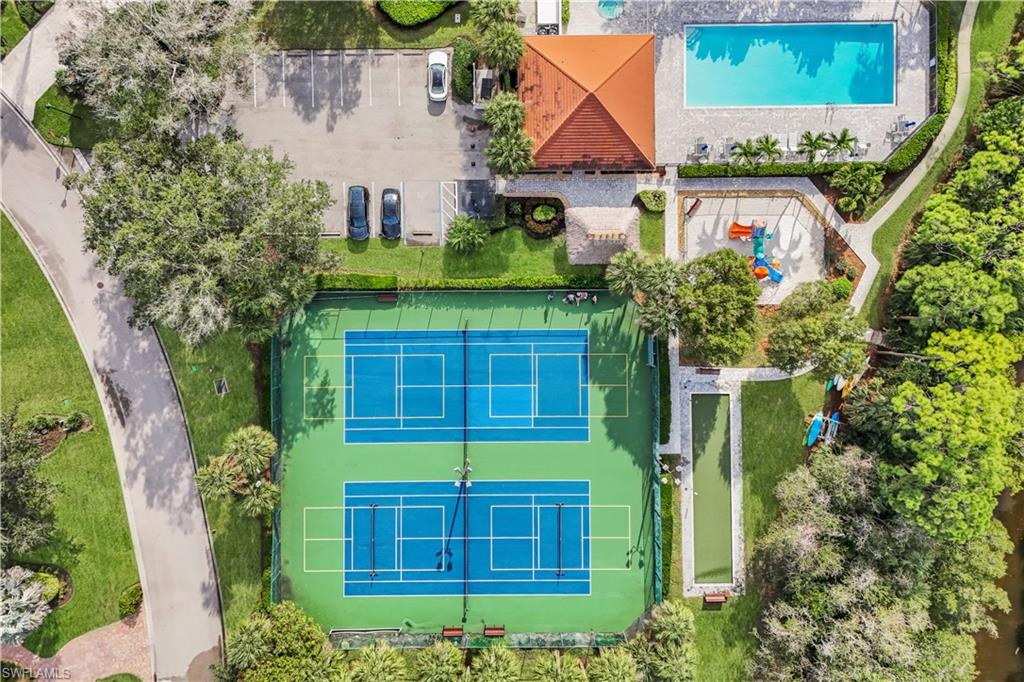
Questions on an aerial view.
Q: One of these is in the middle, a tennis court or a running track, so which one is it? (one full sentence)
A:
It is a tennis court that can be seen in the middle.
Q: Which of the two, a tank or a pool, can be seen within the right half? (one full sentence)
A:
What appears within the right half is a pool.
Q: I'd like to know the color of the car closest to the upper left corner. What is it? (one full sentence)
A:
The car closest to the upper left corner looks blue in the image.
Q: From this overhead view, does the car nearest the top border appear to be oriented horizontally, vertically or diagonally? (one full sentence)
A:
The car nearest the top border has been laid out vertically relative to the frame.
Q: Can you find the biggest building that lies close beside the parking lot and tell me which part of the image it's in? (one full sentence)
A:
The biggest building that lies close beside the parking lot appears toward the top of the photo.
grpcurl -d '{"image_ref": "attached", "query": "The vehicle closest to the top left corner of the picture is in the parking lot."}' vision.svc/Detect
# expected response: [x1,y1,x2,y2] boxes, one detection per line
[346,187,370,241]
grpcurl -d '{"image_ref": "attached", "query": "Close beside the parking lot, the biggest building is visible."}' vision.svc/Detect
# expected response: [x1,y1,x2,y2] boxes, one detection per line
[519,33,660,175]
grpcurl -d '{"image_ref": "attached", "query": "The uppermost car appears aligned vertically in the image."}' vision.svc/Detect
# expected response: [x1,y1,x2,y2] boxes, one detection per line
[426,52,450,103]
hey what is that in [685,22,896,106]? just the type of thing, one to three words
swimming pool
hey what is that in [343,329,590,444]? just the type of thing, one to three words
tennis court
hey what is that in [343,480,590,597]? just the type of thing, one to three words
tennis court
